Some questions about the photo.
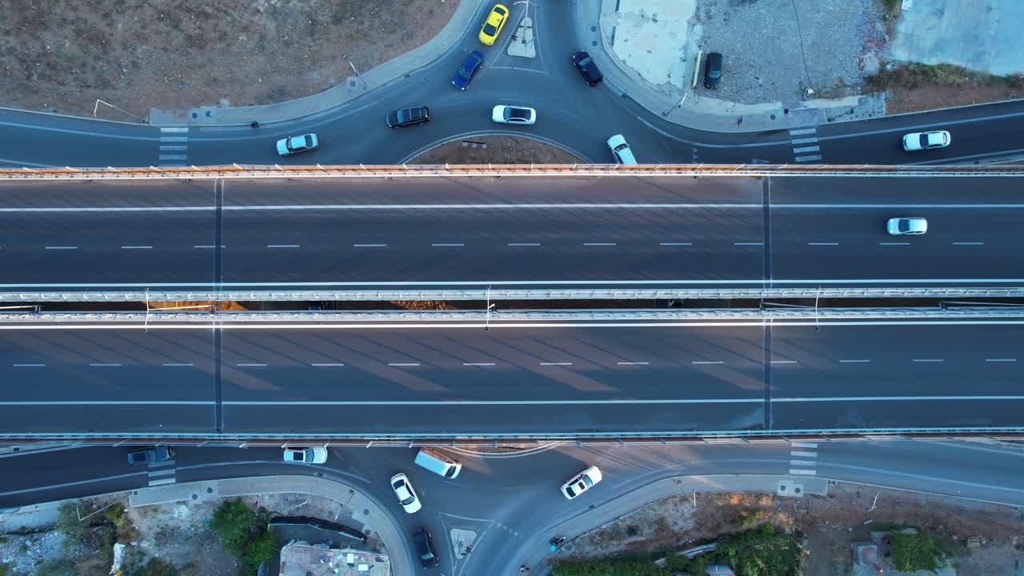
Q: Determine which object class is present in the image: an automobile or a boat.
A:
automobile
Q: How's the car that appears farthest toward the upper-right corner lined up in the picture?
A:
from side to side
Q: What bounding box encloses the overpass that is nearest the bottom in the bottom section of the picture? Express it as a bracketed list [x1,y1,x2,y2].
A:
[0,307,1024,447]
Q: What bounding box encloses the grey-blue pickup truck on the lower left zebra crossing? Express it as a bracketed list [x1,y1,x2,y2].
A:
[127,443,177,465]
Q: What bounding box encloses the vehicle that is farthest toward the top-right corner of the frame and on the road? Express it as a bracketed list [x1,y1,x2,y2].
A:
[900,131,948,152]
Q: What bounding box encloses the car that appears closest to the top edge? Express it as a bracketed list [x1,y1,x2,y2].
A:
[481,3,509,48]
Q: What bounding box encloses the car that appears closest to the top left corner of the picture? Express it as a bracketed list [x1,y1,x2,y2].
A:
[277,133,321,157]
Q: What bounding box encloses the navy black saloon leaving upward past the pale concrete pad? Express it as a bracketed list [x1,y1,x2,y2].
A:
[570,50,605,91]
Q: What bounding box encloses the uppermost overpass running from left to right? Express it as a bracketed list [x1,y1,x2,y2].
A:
[0,163,1024,302]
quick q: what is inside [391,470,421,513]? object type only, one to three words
car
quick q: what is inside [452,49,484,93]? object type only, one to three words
car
